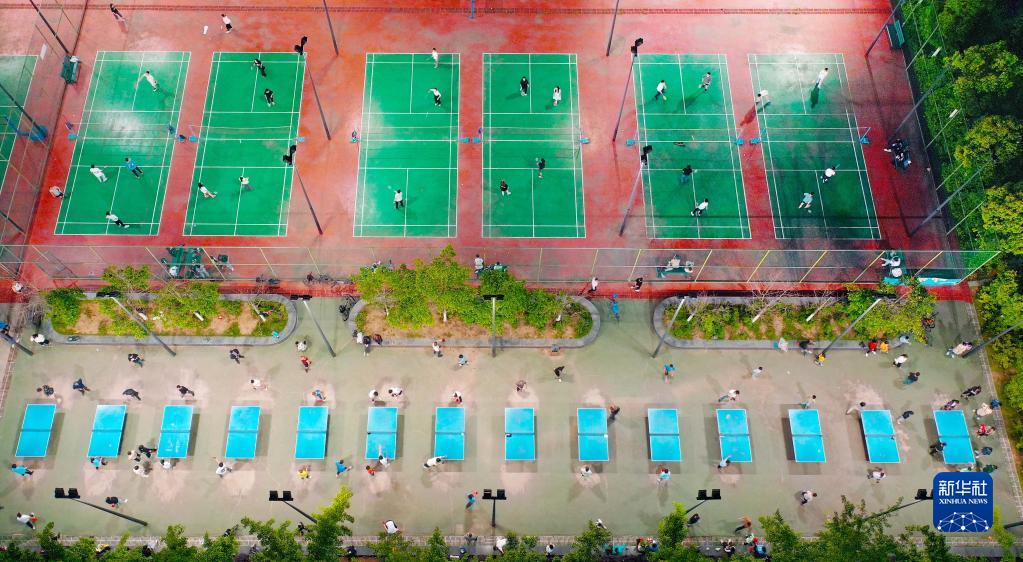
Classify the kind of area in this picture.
sports ground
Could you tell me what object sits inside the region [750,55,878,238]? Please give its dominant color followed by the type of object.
green sports court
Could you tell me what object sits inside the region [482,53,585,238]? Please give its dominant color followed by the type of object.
green sports court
